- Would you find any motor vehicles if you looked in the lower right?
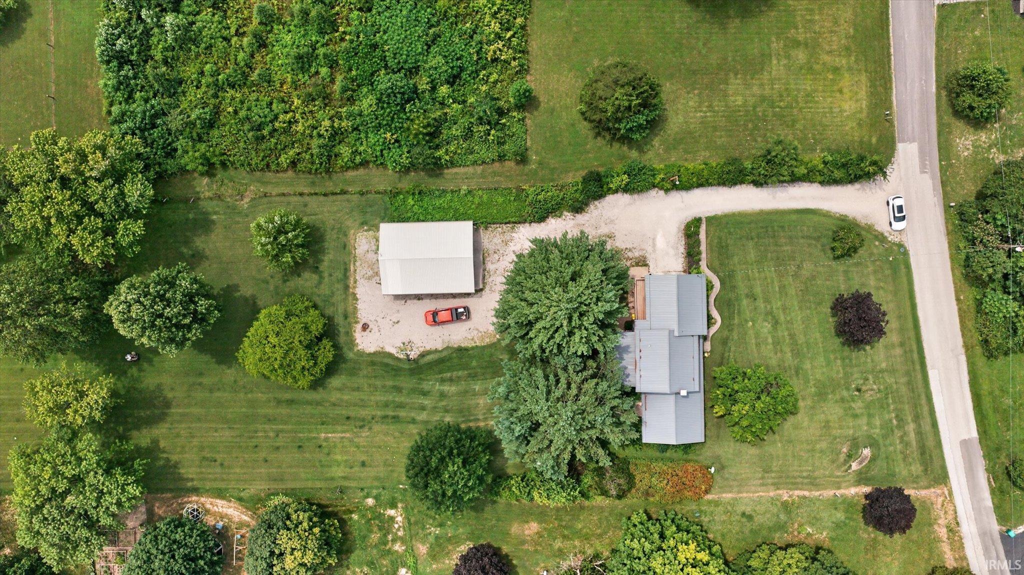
No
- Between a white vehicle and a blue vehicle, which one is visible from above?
white vehicle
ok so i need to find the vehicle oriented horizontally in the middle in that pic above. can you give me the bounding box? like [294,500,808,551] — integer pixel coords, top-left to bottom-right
[424,305,472,327]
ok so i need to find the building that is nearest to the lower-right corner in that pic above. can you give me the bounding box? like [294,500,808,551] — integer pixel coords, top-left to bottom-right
[614,273,707,444]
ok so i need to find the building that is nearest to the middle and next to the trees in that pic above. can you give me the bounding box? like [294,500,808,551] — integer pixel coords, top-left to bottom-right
[378,220,482,296]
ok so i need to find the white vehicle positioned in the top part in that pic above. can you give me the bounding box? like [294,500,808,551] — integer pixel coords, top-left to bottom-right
[885,197,908,231]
